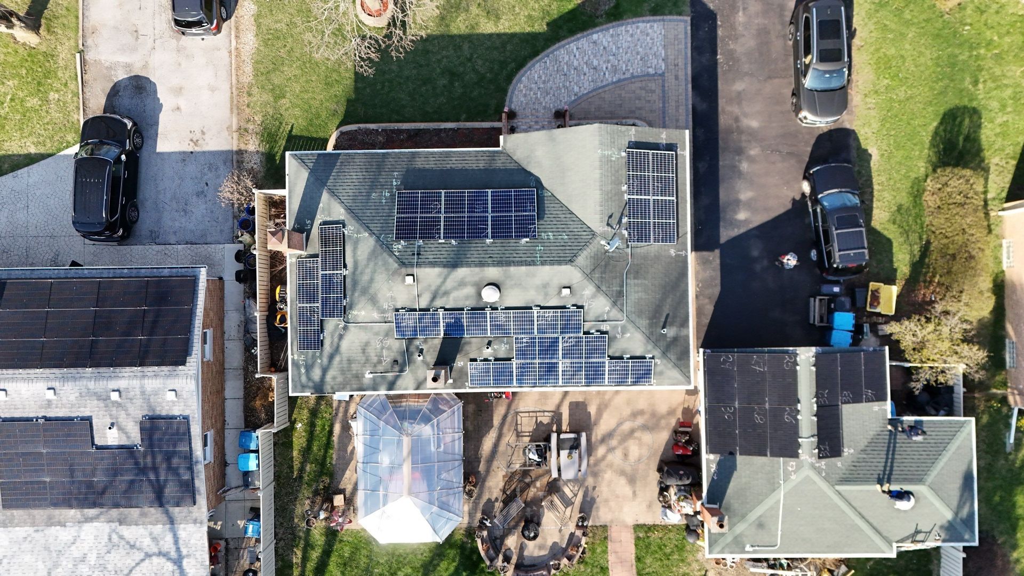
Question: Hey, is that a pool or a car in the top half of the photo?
car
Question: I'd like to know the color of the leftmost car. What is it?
black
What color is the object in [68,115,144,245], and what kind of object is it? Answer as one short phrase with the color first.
black car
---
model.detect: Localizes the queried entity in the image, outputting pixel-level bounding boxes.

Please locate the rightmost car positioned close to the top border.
[788,0,853,128]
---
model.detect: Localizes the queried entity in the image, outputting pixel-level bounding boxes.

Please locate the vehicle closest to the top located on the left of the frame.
[171,0,229,37]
